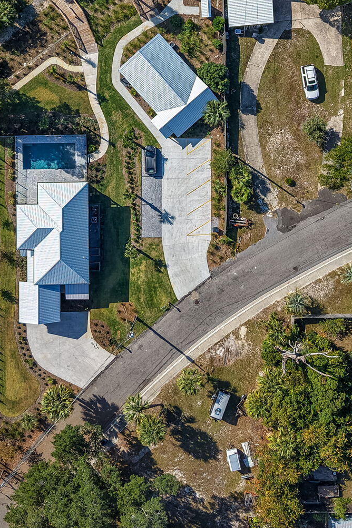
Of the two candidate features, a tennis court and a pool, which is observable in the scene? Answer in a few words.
pool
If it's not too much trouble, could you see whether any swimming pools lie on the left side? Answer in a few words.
Yes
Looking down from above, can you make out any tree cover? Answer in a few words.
Yes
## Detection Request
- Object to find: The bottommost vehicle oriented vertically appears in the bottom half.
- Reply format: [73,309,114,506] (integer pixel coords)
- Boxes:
[227,445,241,476]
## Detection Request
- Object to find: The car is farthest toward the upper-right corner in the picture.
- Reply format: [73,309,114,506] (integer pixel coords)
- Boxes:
[300,65,319,100]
